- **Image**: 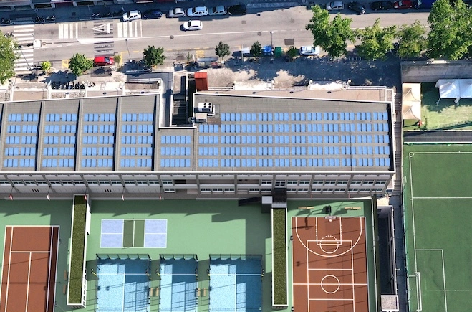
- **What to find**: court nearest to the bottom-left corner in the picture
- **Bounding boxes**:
[0,226,60,312]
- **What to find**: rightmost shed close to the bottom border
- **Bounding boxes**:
[380,294,400,312]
